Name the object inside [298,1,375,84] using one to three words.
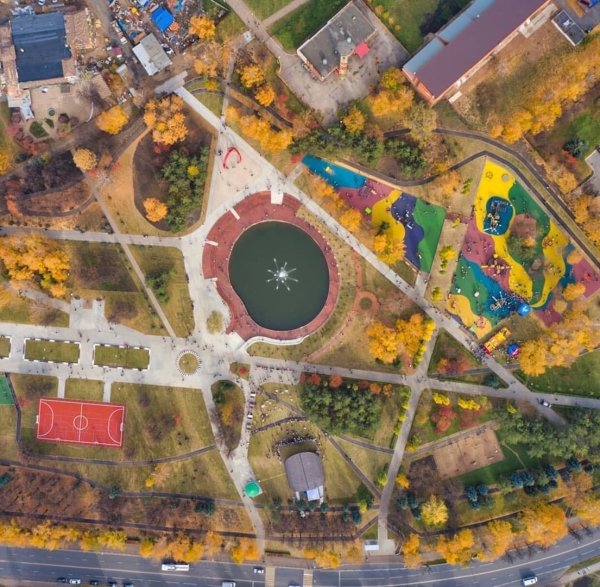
building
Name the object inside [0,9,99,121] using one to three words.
house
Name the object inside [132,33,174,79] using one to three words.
shed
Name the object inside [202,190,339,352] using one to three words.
pond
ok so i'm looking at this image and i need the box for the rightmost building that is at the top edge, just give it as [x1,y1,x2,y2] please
[551,10,585,48]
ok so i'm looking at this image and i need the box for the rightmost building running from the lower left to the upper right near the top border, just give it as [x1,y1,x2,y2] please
[400,0,553,103]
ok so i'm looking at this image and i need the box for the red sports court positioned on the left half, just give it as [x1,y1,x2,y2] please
[36,397,127,448]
